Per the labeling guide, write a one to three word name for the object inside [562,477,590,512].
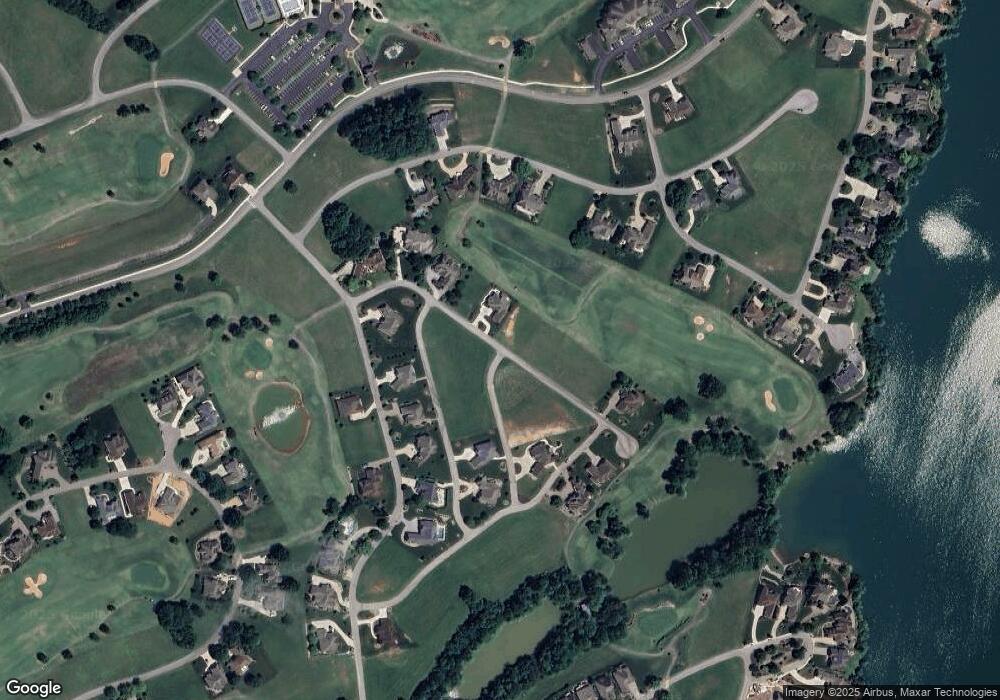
house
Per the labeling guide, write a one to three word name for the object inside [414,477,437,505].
house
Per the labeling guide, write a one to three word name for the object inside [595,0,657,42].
building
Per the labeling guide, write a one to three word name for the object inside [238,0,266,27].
tennis court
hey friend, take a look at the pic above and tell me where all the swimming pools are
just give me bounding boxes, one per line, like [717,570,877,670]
[342,520,352,533]
[438,526,444,539]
